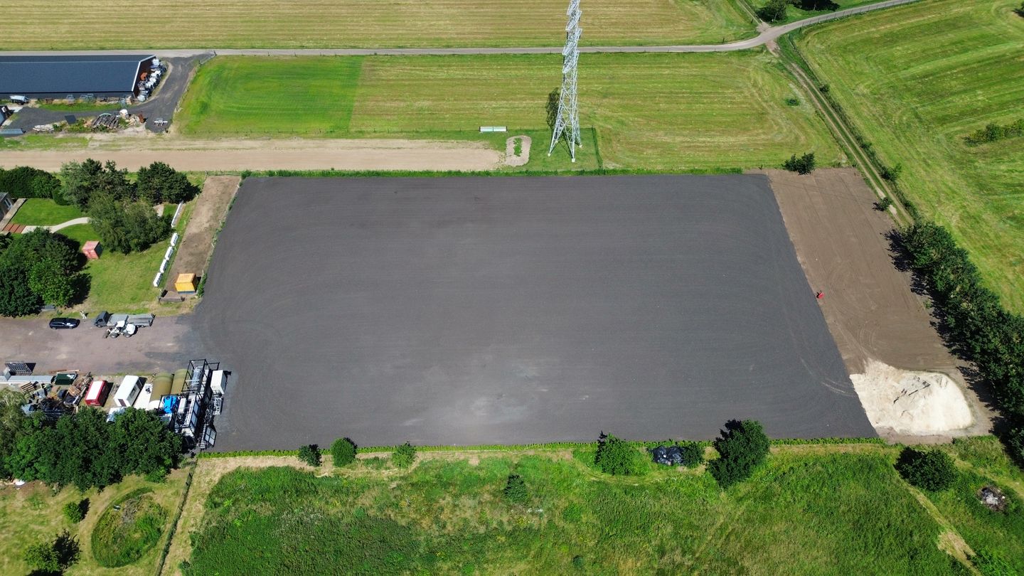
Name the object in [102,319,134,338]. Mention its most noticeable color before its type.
white work vehicle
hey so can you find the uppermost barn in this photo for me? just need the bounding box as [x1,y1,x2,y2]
[0,53,156,100]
